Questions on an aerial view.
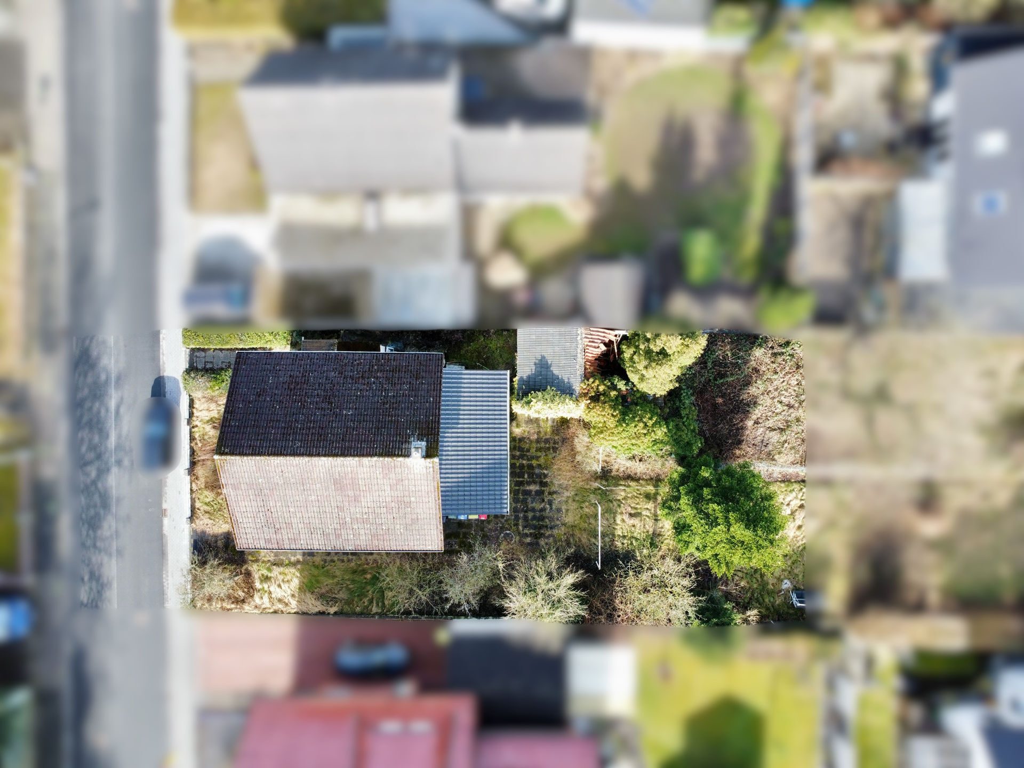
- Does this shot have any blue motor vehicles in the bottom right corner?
No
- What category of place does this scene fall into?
residential area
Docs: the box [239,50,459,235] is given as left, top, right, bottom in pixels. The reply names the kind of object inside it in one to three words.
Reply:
house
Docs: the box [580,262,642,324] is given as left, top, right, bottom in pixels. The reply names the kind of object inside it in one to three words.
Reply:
shed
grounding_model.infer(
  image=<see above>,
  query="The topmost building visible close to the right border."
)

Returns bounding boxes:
[910,32,1024,294]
